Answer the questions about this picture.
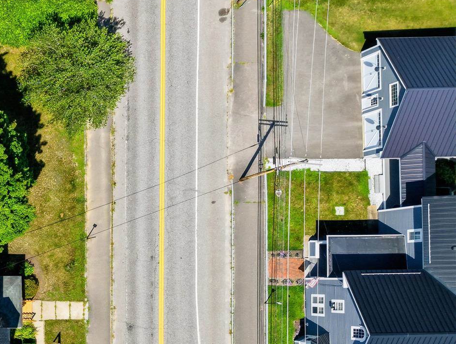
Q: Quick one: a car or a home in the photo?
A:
home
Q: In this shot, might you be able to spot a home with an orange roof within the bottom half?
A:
No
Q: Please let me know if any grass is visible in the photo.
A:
Yes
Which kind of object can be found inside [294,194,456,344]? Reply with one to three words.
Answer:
house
